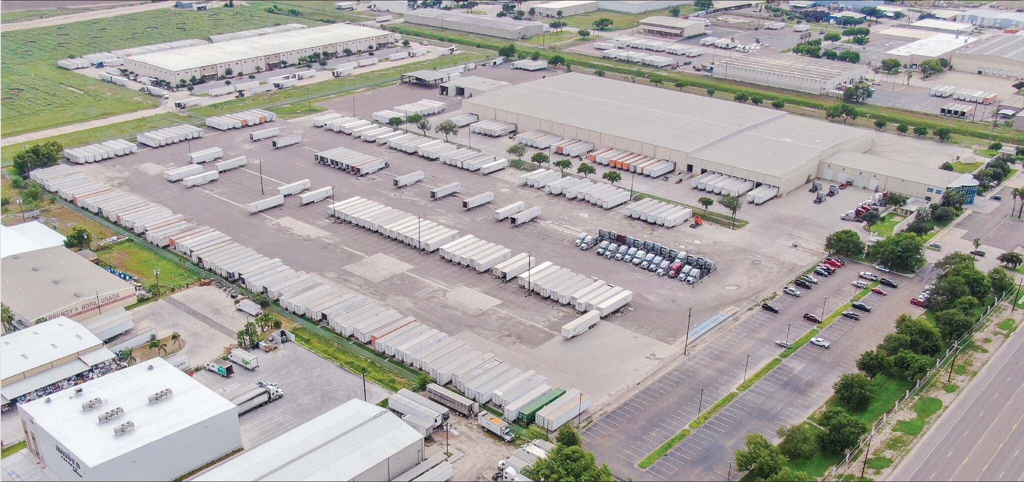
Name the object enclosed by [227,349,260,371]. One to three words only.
truck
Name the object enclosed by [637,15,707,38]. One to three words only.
building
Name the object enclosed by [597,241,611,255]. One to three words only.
vehicle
